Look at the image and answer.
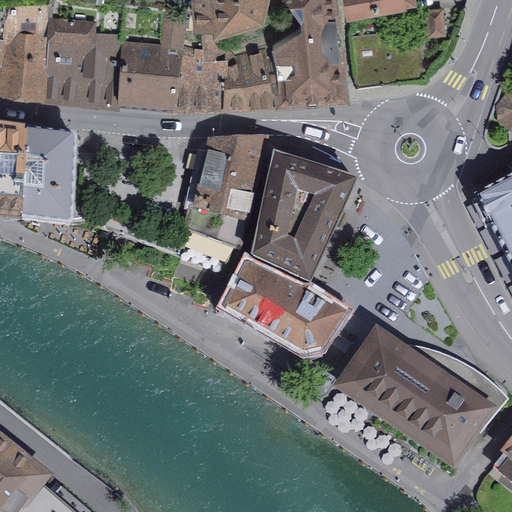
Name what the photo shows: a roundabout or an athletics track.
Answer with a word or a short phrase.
roundabout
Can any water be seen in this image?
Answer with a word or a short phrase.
Yes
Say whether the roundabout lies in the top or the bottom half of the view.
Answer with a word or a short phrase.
top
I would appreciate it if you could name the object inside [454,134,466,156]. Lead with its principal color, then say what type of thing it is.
white vehicle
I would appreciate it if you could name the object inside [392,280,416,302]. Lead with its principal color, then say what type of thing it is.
white car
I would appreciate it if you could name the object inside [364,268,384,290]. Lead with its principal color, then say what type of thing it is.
white car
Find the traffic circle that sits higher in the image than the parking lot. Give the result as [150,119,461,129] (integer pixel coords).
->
[349,92,464,204]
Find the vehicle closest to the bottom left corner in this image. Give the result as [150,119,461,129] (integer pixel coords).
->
[146,280,170,298]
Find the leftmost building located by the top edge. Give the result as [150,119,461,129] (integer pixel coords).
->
[0,4,49,104]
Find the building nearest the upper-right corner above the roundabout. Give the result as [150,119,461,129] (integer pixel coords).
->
[427,8,446,39]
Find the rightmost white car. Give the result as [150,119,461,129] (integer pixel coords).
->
[495,294,509,315]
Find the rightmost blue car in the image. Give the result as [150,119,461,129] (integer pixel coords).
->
[470,79,484,102]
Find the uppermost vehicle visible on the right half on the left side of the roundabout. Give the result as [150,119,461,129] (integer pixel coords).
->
[302,124,330,140]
